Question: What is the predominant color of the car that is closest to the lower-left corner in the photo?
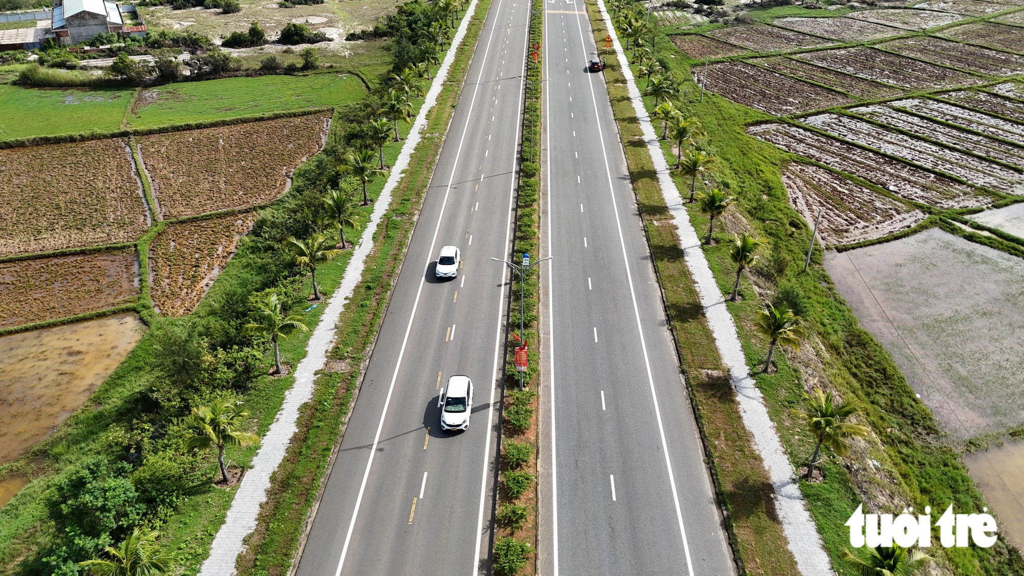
white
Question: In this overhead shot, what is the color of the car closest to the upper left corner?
white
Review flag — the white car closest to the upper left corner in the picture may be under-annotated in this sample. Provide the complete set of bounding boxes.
[434,245,461,279]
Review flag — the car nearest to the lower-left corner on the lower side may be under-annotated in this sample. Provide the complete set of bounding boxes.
[438,376,473,432]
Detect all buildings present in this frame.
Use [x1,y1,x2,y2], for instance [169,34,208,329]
[0,28,42,47]
[44,0,131,43]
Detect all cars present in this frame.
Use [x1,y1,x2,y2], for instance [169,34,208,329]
[590,58,603,69]
[434,245,461,279]
[438,376,473,432]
